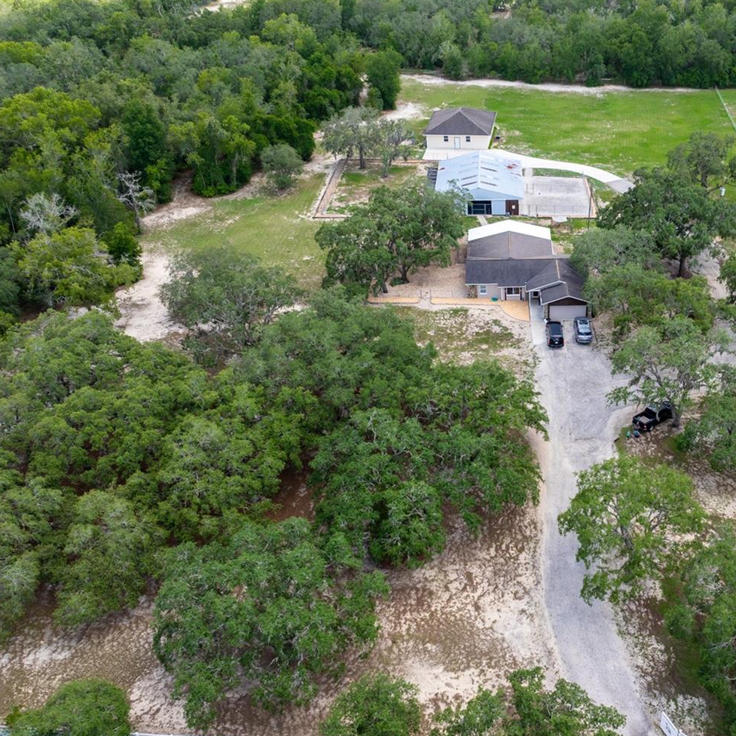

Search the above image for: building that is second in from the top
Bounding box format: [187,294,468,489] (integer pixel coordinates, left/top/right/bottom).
[429,148,523,216]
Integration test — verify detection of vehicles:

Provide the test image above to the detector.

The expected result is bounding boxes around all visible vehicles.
[575,316,594,339]
[546,319,565,343]
[638,398,677,433]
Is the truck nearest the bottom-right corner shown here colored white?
No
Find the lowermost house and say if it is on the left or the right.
right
